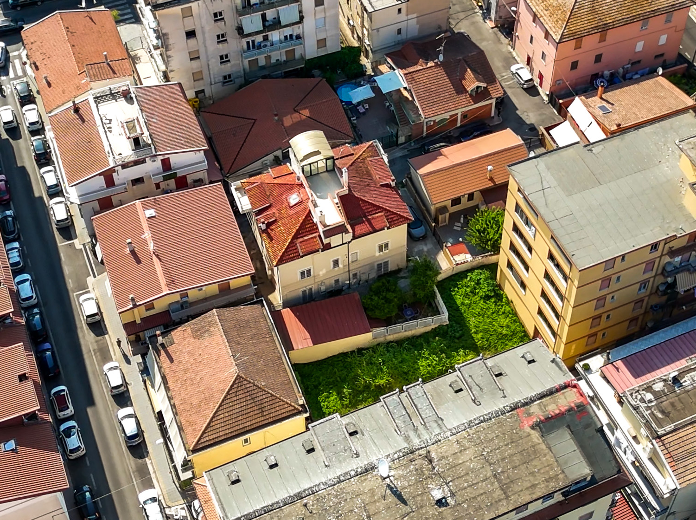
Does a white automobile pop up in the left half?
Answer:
Yes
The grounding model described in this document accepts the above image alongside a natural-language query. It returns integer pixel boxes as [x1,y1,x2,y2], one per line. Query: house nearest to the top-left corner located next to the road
[23,0,134,114]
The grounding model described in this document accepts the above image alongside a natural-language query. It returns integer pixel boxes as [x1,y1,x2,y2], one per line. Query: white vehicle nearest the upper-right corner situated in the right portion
[508,63,538,89]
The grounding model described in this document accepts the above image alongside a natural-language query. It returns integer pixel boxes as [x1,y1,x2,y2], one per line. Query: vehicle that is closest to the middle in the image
[407,207,427,240]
